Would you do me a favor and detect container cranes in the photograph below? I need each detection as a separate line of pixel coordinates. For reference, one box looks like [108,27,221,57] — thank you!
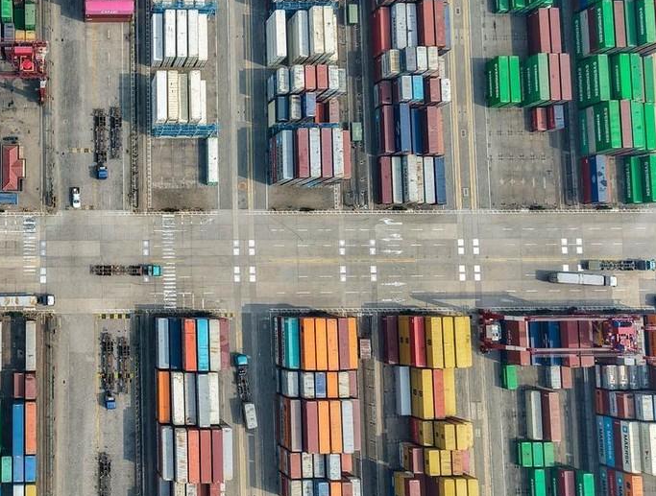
[0,37,47,108]
[478,310,646,358]
[588,322,656,361]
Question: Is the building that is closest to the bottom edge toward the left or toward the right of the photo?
left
